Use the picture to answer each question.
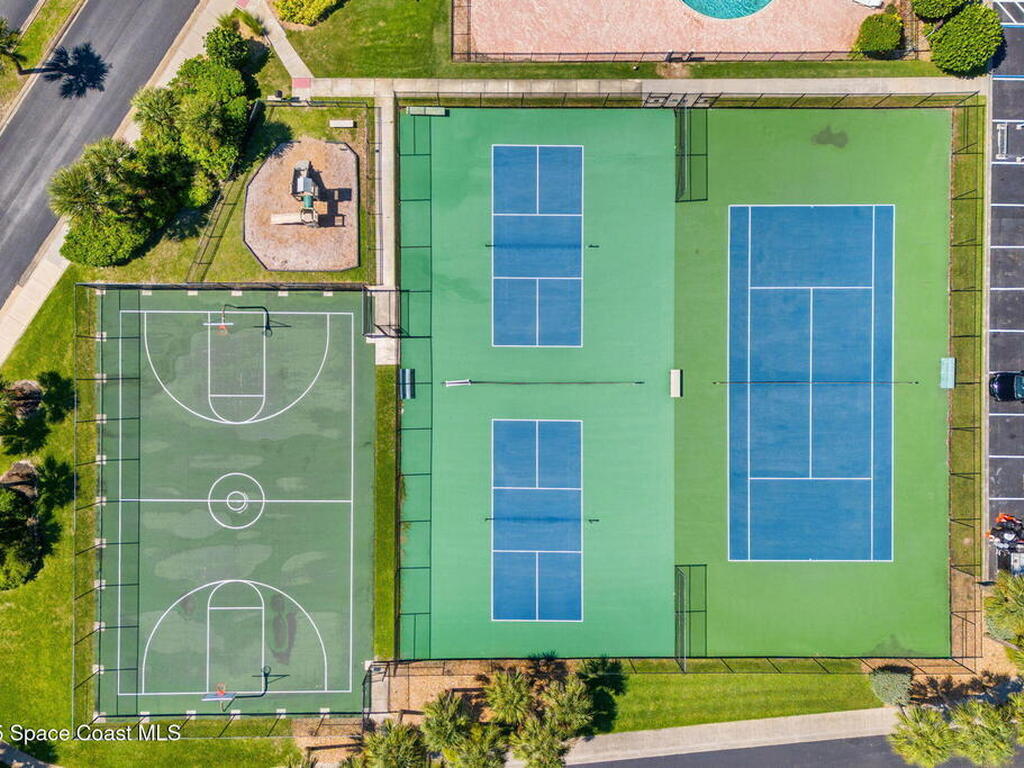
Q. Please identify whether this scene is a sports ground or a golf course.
sports ground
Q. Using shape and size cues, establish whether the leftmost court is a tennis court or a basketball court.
basketball court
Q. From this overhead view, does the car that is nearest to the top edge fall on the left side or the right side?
right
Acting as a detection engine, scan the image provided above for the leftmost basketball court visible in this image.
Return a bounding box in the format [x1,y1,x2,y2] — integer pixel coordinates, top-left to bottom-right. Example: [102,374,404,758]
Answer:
[96,287,376,718]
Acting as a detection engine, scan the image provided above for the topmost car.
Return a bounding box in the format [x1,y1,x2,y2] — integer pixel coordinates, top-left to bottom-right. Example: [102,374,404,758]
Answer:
[988,370,1024,404]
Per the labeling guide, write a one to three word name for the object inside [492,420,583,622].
sports court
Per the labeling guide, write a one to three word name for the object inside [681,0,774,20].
swimming pool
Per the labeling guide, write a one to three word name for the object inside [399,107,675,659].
sports court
